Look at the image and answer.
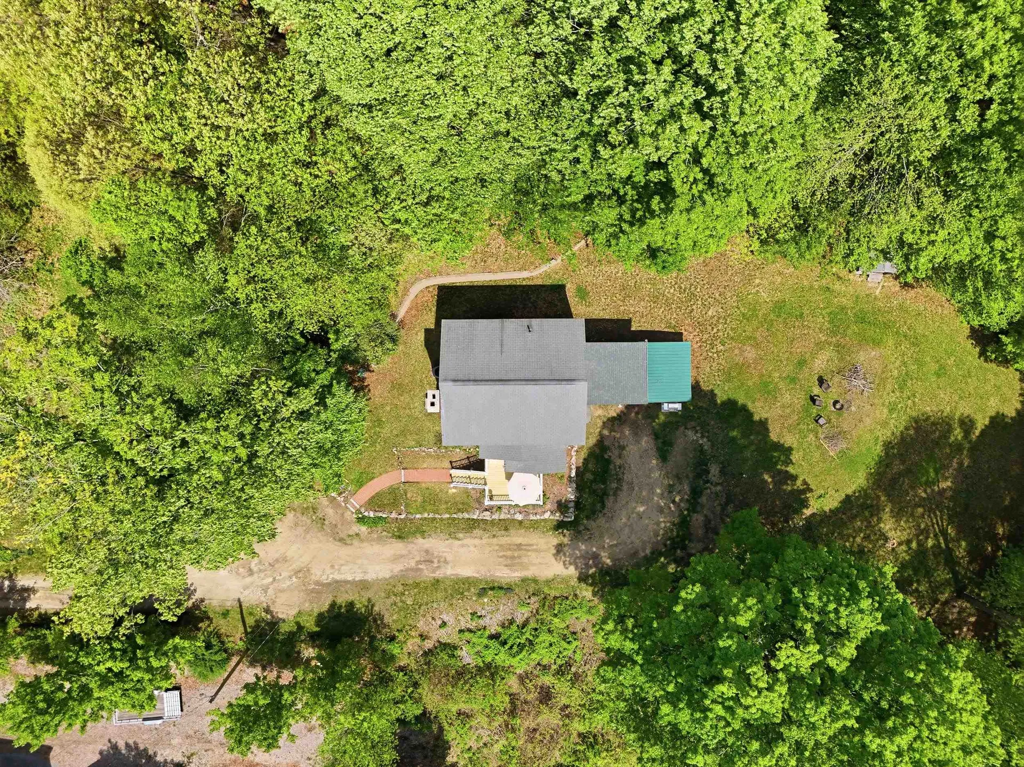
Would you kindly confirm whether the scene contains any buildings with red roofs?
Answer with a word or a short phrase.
No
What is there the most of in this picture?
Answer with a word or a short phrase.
trees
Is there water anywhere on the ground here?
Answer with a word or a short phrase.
No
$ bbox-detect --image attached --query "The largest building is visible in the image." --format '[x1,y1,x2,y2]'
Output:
[425,318,588,447]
